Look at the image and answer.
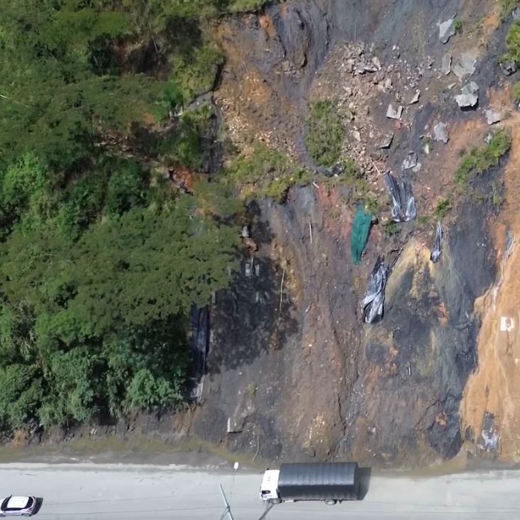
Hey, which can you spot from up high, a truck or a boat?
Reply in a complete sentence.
Visible in the photo is a truck.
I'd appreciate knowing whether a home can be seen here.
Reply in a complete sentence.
No, there appears to be no home in this shot.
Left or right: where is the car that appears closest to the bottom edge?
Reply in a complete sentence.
It is on the left.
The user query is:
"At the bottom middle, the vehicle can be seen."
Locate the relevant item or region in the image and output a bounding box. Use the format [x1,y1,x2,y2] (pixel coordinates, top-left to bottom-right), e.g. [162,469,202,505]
[261,464,362,504]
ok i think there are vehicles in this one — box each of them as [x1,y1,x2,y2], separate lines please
[0,493,38,517]
[261,464,362,504]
